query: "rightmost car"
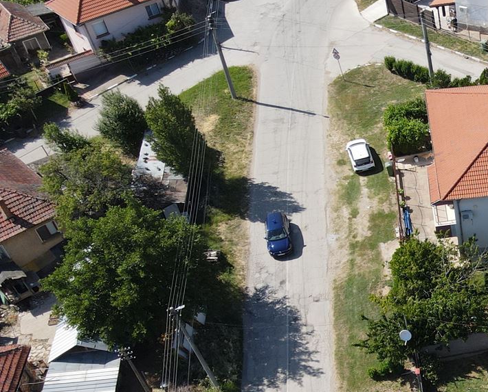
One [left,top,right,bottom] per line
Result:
[344,135,373,168]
